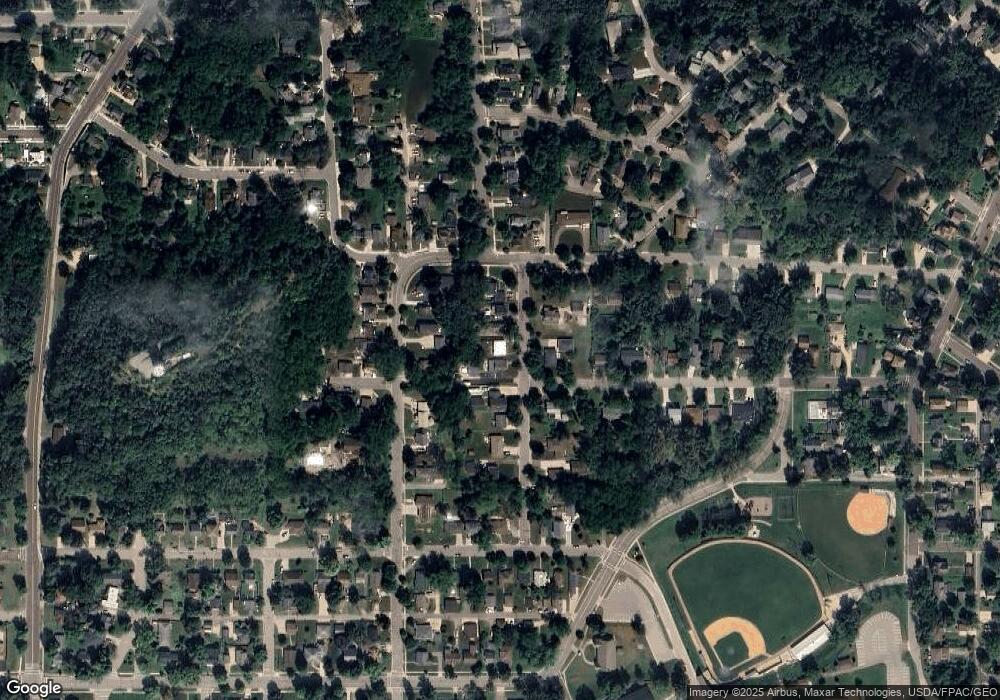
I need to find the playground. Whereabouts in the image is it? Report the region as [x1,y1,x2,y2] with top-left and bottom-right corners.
[750,497,772,516]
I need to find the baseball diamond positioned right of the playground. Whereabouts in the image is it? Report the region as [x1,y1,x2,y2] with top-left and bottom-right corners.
[800,486,902,584]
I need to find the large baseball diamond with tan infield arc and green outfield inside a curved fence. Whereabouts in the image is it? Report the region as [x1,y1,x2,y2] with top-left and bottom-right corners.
[670,540,823,682]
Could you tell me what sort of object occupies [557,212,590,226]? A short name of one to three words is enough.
house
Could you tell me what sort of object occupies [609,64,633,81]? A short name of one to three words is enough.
house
